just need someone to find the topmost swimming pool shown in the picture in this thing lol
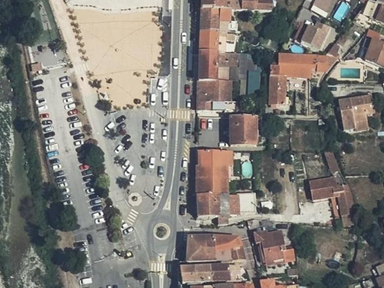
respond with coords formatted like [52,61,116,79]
[332,0,351,22]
